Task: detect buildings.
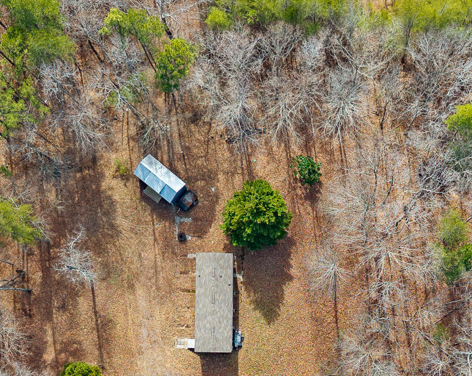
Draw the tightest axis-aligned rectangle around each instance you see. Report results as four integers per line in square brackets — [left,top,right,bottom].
[135,155,186,204]
[195,253,234,353]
